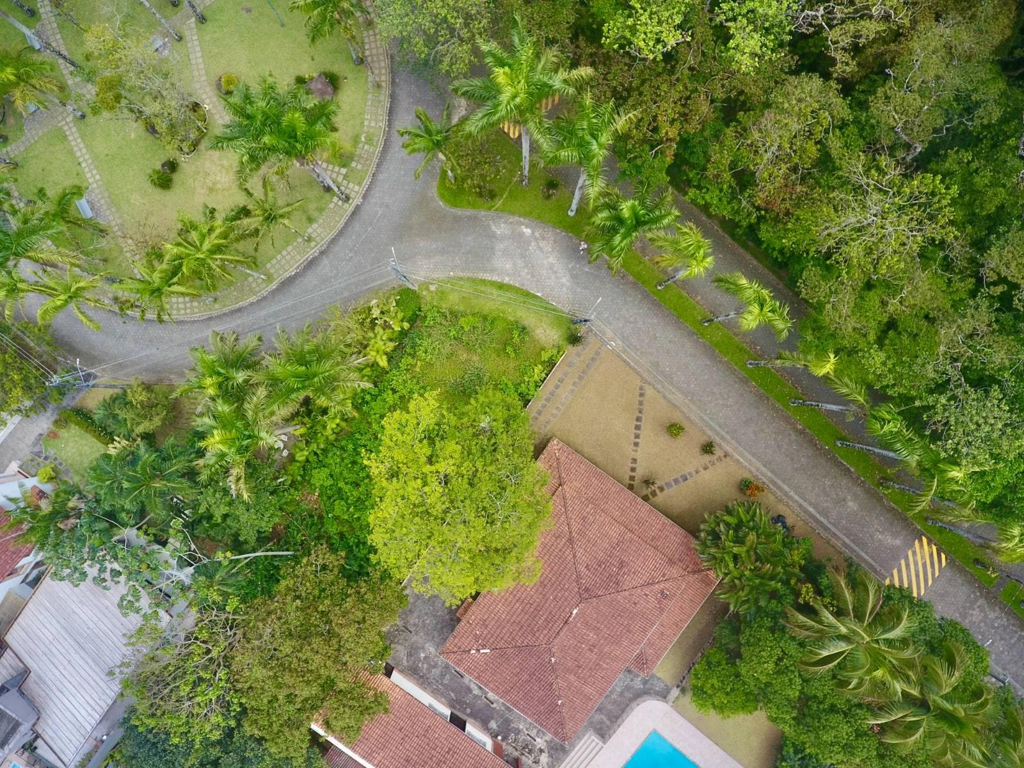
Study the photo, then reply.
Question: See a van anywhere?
No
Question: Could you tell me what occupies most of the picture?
trees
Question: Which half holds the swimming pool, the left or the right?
right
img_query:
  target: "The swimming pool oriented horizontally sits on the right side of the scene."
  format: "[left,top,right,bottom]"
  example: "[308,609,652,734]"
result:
[588,700,744,768]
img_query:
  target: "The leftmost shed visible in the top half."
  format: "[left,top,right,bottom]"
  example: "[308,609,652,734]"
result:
[297,65,330,101]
